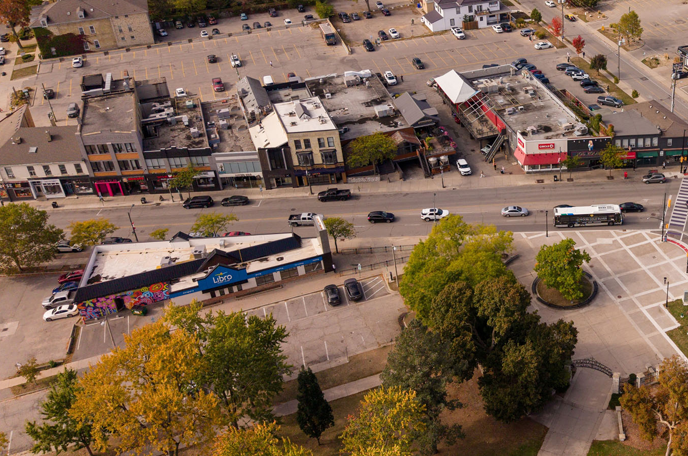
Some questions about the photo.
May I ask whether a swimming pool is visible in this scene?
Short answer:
No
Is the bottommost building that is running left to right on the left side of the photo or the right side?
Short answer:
left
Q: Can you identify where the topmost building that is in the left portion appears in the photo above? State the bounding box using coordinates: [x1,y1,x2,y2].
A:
[31,0,157,58]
